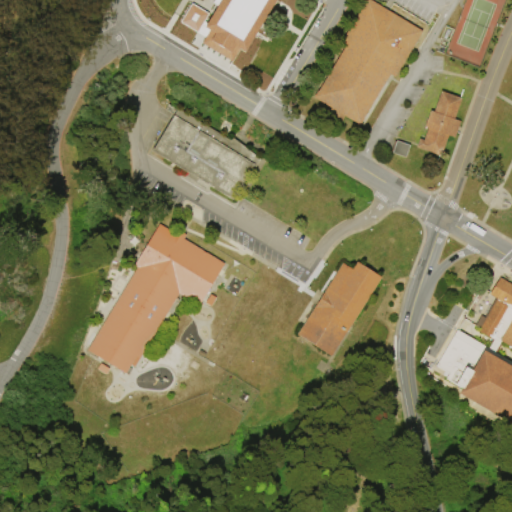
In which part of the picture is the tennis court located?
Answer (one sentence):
The tennis court appears toward the top right of the photo.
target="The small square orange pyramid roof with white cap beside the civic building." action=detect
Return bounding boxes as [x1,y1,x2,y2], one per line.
[182,2,208,32]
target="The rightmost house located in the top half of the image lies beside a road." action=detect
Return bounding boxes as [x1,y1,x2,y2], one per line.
[418,91,462,154]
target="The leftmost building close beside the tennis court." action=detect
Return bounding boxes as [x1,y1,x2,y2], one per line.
[318,0,422,123]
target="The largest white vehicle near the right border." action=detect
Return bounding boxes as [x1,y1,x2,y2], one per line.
[468,222,487,236]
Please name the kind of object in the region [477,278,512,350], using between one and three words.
building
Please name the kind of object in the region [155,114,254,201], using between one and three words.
building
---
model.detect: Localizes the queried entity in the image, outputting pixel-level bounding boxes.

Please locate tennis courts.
[448,0,506,66]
